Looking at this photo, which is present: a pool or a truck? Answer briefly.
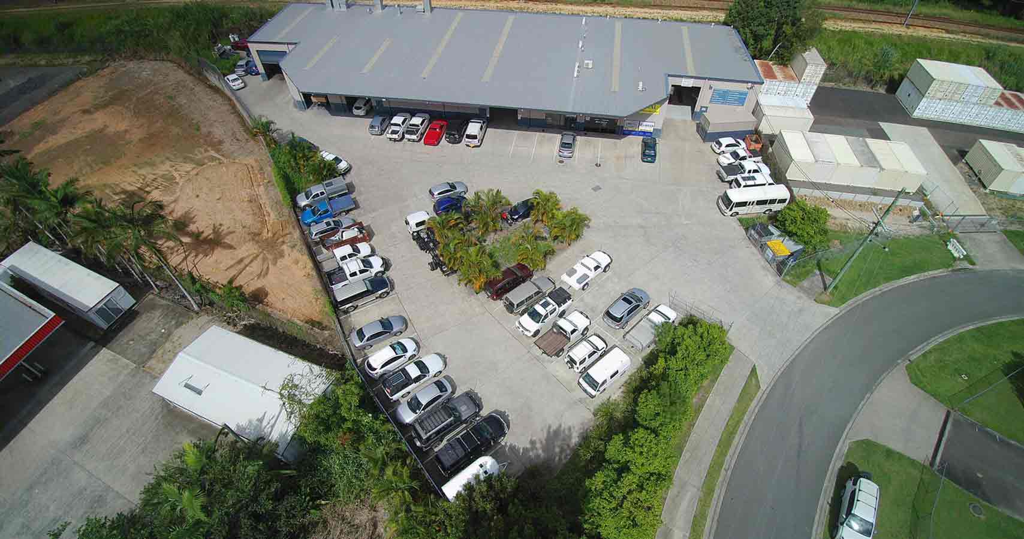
truck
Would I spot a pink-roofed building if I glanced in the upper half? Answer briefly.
No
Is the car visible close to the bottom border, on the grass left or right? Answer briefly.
right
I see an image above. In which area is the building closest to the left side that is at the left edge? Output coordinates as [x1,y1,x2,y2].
[0,237,137,332]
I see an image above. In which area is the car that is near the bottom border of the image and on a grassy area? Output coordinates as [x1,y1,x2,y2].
[838,476,893,539]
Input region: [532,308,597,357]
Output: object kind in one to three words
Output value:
truck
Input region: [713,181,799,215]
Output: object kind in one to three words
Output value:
vehicle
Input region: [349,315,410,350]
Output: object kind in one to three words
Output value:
car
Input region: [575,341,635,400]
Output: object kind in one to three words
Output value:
van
